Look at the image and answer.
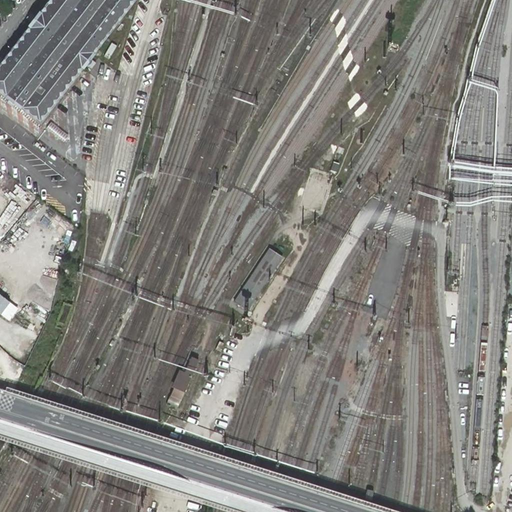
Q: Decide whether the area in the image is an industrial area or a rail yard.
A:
rail yard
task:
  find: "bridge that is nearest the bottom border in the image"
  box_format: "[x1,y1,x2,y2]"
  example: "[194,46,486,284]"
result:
[0,386,406,512]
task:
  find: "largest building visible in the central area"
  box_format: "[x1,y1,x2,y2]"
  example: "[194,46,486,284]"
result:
[233,246,282,308]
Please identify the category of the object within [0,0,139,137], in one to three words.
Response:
building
